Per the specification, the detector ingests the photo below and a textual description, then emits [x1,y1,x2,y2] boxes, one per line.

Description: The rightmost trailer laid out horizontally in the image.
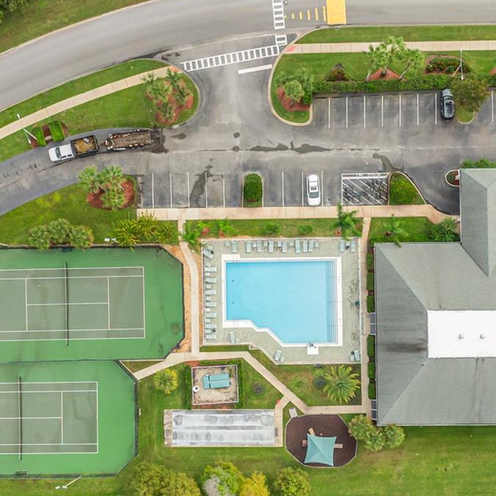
[100,128,162,150]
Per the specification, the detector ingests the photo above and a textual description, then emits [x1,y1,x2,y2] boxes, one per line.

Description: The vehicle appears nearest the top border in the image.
[441,88,457,119]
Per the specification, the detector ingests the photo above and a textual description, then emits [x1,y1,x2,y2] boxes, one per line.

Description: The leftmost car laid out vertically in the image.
[307,172,320,205]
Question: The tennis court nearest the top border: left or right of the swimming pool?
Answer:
to the left of it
